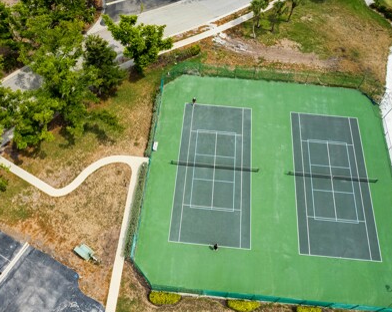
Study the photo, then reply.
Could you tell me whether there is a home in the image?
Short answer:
No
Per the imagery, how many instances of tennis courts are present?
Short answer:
2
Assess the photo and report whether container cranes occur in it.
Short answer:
No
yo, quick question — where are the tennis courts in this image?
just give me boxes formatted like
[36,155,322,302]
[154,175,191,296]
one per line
[288,112,382,262]
[169,103,258,249]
